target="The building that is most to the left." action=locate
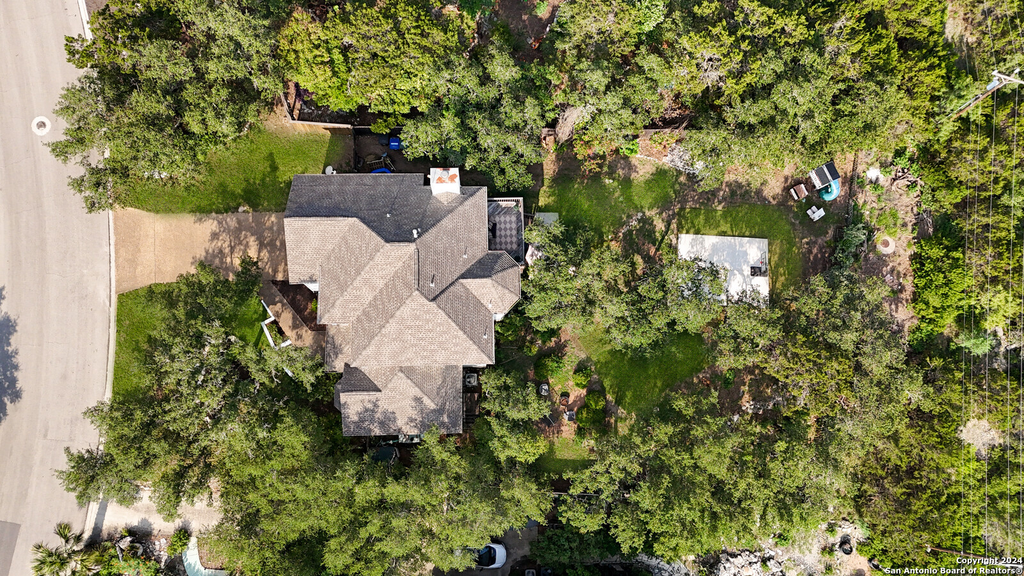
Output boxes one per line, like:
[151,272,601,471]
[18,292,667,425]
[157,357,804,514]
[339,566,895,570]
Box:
[285,168,522,436]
